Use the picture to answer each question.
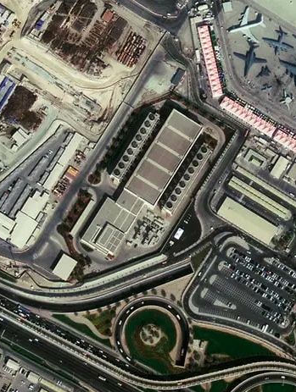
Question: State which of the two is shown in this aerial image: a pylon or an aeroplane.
aeroplane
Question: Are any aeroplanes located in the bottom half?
No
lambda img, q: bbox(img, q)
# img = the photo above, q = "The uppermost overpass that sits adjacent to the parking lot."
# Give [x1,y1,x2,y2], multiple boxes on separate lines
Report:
[0,259,164,295]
